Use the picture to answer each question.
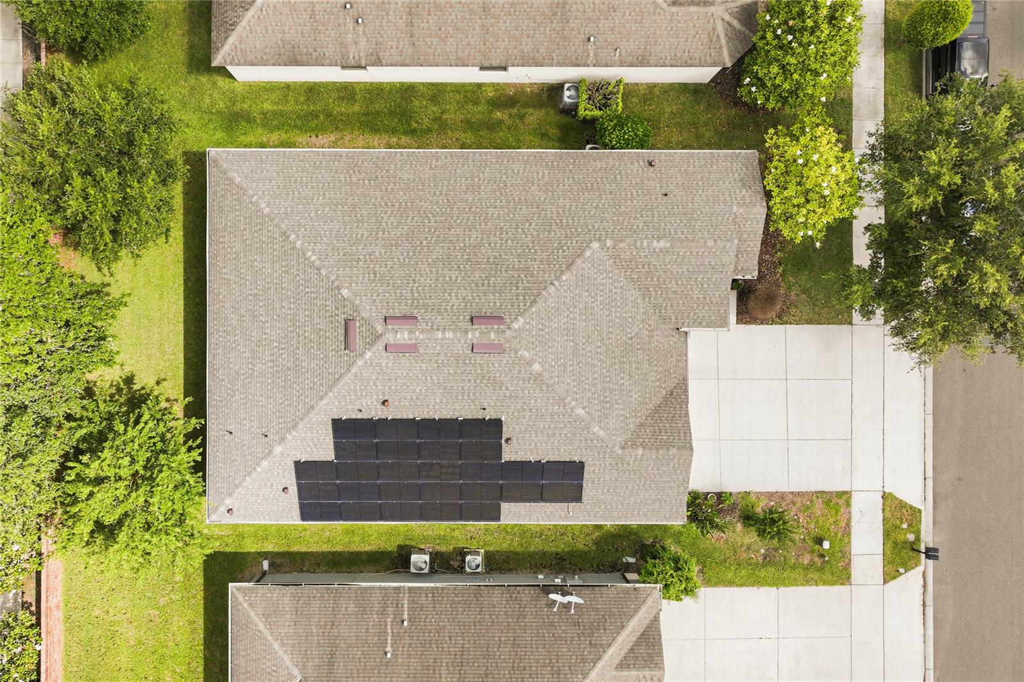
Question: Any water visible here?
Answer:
No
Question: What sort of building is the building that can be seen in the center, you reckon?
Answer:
residential house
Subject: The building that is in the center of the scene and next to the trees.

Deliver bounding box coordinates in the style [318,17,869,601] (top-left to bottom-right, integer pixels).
[205,148,767,525]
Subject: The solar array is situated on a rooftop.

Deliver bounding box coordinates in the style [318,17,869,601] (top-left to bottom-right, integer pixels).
[295,417,584,522]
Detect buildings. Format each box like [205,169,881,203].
[228,574,664,682]
[205,148,767,525]
[209,0,756,82]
